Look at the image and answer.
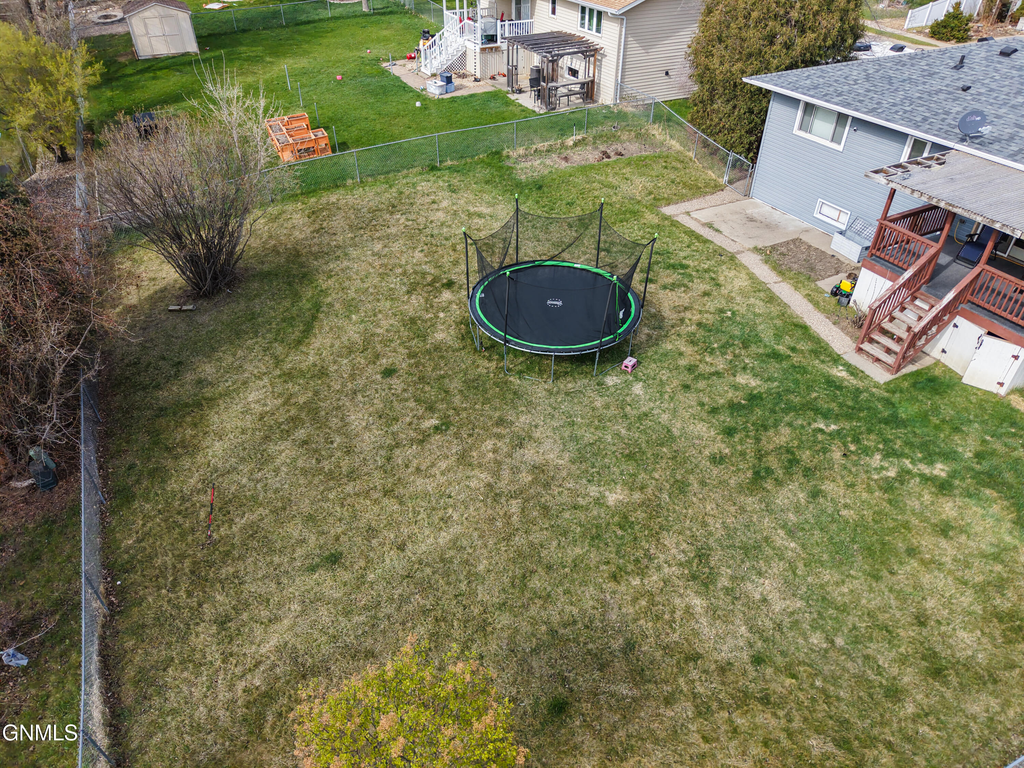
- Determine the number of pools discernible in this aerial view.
0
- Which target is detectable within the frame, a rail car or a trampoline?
trampoline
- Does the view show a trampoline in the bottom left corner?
No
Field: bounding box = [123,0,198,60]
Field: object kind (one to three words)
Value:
shed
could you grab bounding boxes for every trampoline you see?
[461,191,658,383]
